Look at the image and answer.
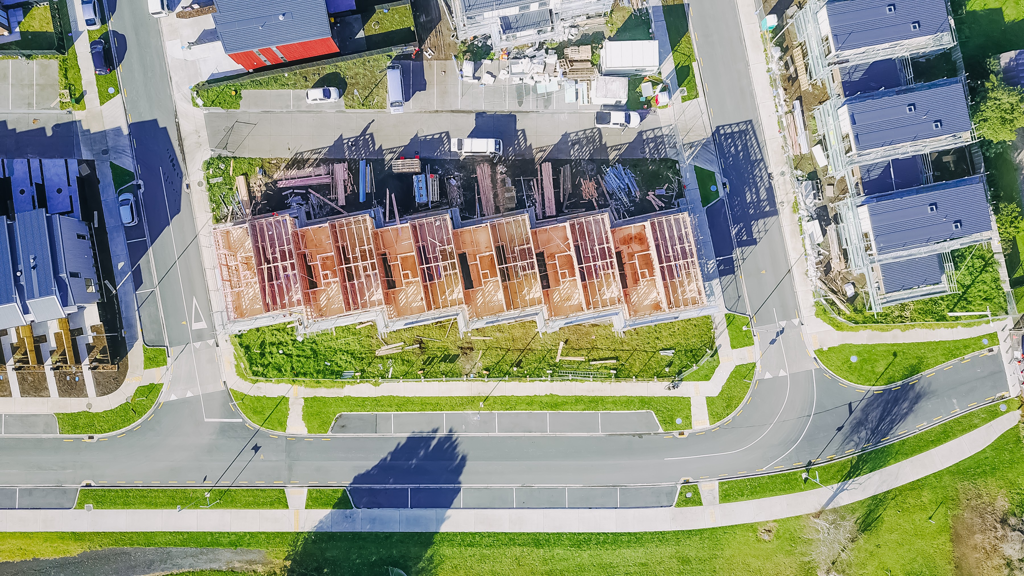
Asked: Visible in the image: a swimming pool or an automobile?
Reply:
automobile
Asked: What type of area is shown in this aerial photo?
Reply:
residential area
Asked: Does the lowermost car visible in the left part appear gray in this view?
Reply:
No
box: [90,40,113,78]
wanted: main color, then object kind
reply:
blue car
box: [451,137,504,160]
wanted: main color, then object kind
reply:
white vehicle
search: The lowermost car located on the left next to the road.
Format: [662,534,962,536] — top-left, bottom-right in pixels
[119,193,140,228]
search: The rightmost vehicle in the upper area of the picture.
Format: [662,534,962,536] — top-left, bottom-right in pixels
[595,109,640,135]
